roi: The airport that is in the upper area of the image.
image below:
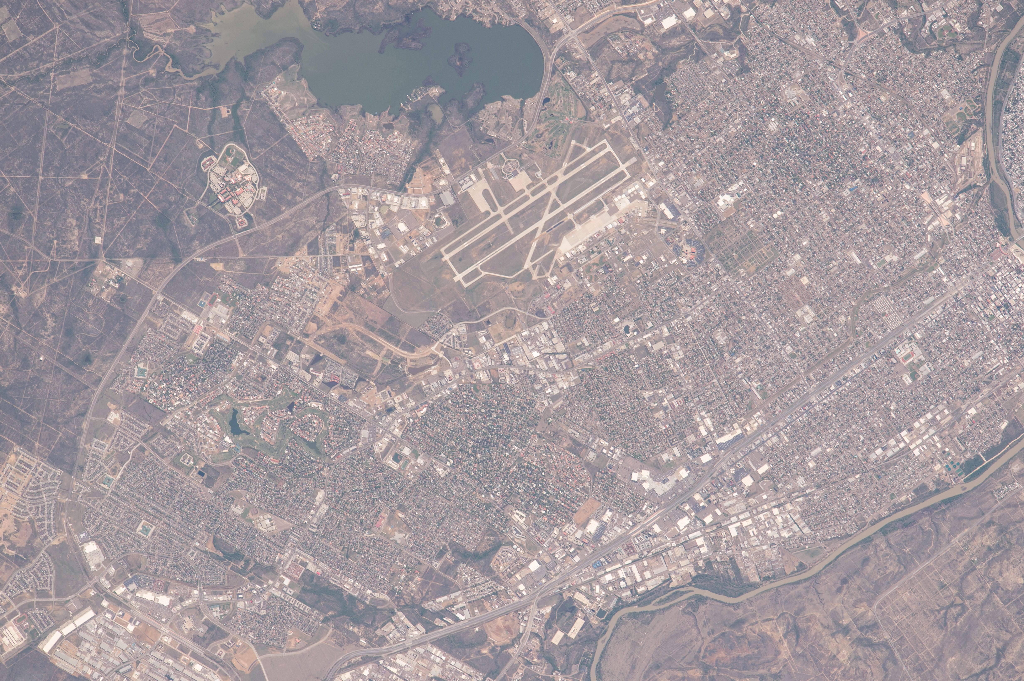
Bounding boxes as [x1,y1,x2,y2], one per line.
[440,135,648,287]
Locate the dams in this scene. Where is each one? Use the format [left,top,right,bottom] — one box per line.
[513,15,549,102]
